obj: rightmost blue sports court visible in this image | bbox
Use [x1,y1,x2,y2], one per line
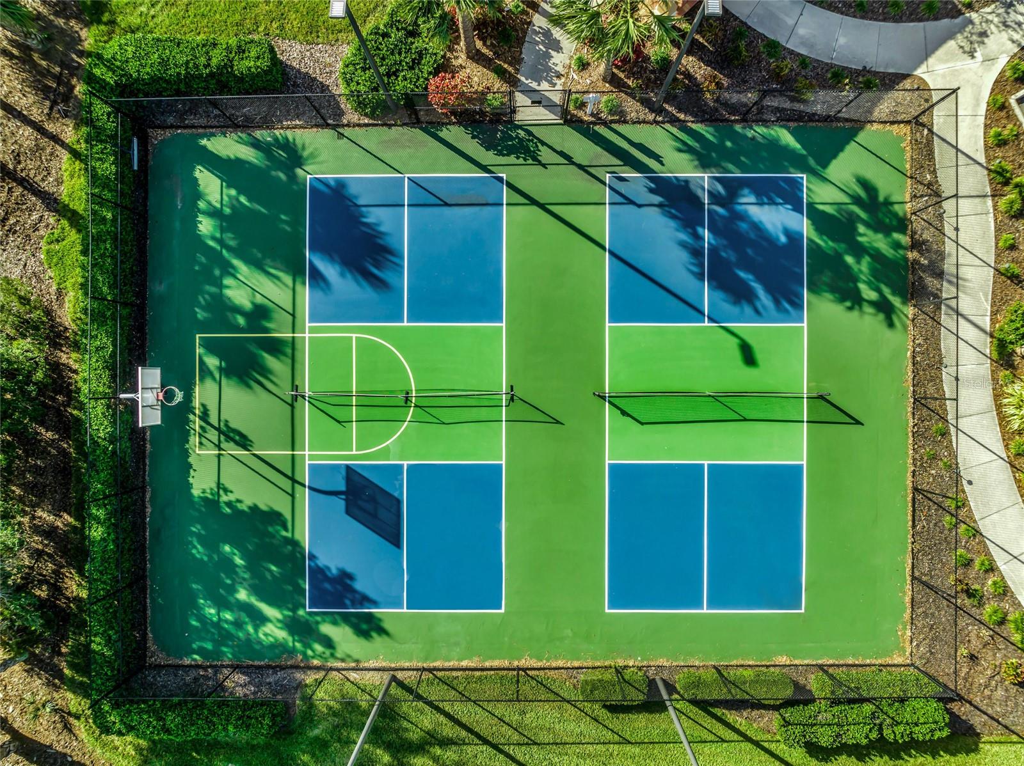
[607,174,805,613]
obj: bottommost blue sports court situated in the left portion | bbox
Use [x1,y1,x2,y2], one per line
[307,174,505,613]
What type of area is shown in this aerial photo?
sports ground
